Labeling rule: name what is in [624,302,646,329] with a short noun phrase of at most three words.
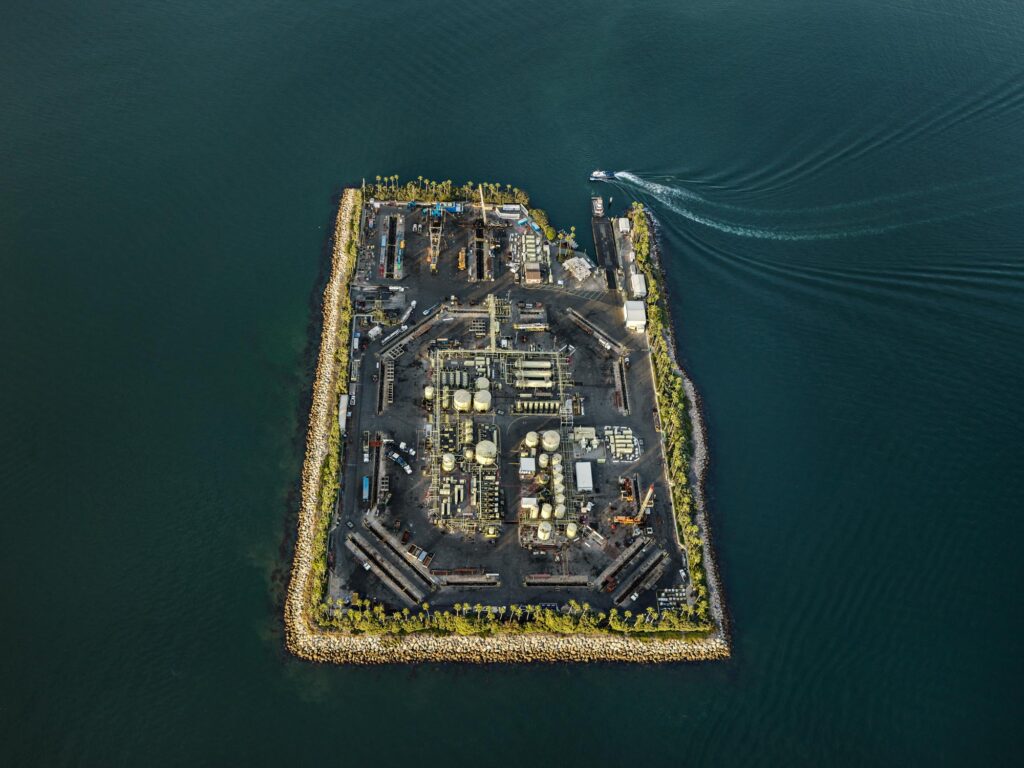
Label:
building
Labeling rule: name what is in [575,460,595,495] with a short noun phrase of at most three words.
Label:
shed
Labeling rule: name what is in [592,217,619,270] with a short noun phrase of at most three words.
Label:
ship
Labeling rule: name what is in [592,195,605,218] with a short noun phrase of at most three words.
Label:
boat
